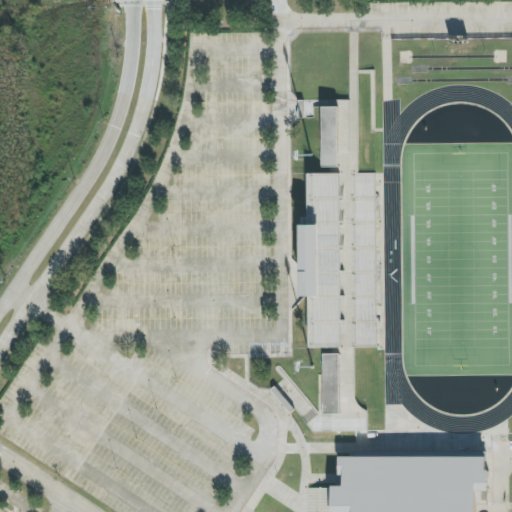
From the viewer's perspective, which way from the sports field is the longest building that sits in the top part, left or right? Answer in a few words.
on its left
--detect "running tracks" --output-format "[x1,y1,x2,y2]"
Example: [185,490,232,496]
[384,84,512,434]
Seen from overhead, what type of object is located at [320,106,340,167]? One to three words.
building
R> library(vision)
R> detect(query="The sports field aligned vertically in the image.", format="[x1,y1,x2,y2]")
[402,142,512,377]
